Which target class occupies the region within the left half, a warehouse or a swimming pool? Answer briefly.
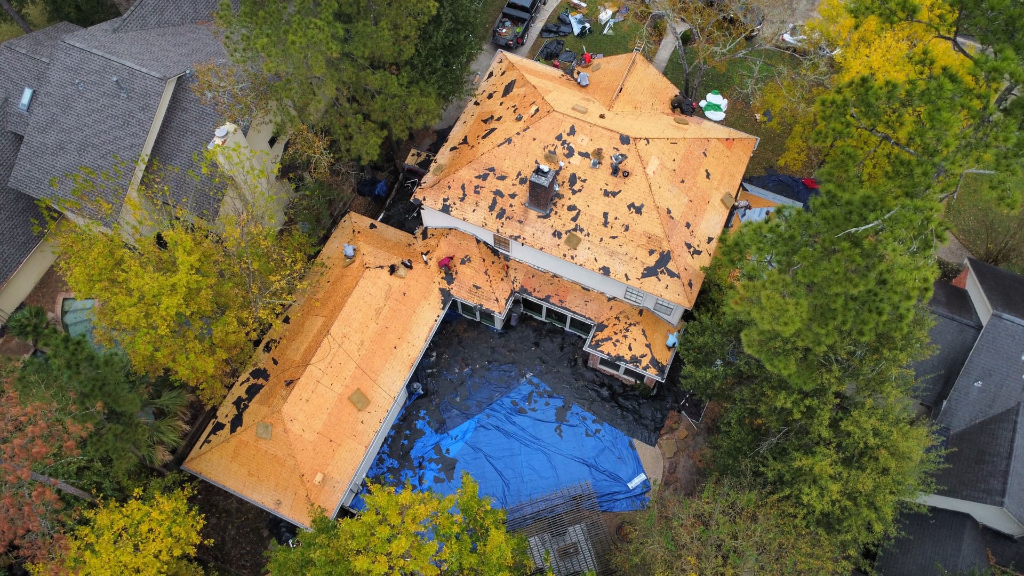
swimming pool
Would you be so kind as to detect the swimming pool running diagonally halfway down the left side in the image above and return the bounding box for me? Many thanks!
[56,291,187,400]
